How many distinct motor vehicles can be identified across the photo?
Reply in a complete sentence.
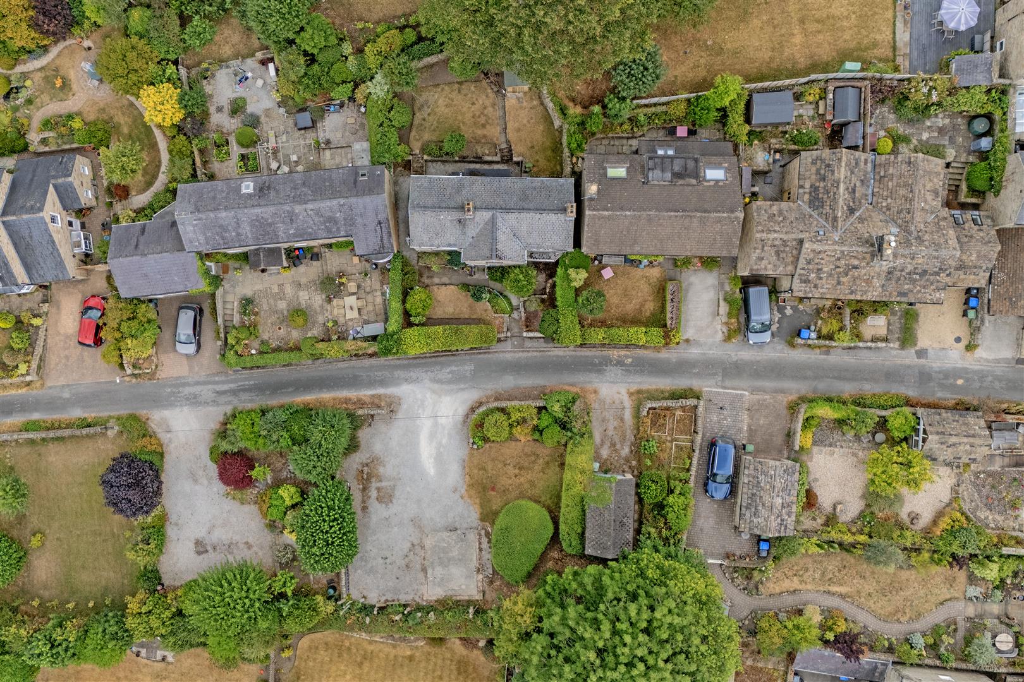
There are 4 motor vehicles in the image.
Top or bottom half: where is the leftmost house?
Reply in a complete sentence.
Seen from above, the leftmost house lies in the top half of the view.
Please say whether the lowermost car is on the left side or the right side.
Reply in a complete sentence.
The lowermost car sits on the right side.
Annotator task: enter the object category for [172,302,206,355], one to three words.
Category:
car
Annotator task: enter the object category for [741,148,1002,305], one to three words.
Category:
house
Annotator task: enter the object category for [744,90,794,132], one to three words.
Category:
shed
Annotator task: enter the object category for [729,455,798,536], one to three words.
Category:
building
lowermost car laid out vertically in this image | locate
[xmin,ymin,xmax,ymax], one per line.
[705,436,736,499]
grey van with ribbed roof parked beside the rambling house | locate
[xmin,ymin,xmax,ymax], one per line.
[741,285,774,344]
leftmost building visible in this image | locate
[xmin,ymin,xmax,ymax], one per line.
[0,152,105,297]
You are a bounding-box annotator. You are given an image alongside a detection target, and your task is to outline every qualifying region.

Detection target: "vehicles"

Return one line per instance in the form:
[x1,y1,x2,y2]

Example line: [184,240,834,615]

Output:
[705,436,736,499]
[76,296,110,348]
[172,302,206,355]
[741,285,774,344]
